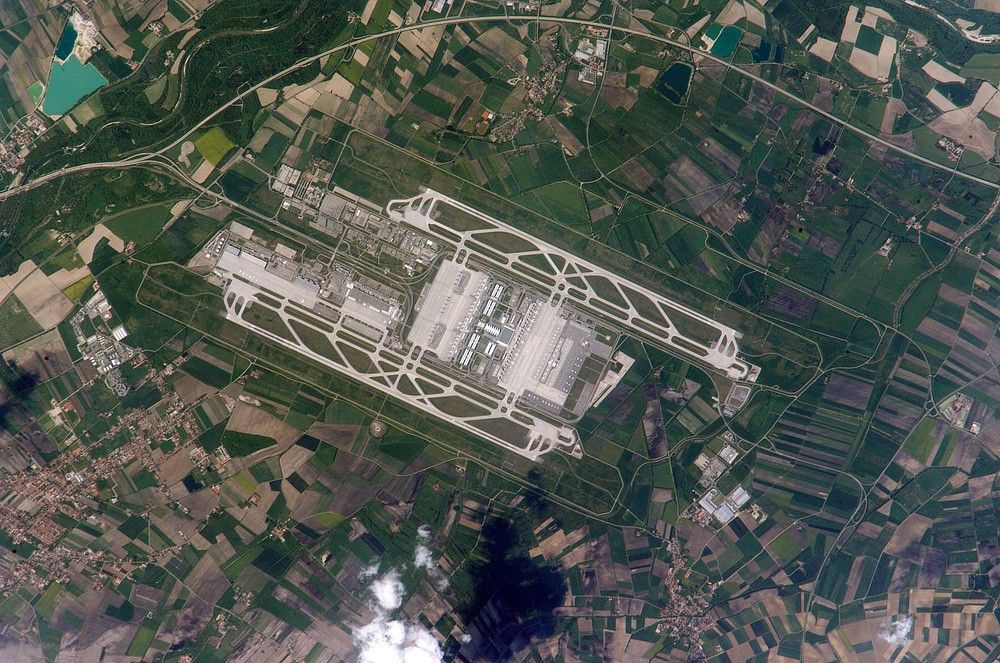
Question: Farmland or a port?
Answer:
farmland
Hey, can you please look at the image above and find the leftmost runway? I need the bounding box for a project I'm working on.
[219,310,545,465]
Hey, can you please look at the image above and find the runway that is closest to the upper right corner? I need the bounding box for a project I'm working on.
[420,185,744,339]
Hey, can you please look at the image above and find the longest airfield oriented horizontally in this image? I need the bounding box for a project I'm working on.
[187,181,765,477]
